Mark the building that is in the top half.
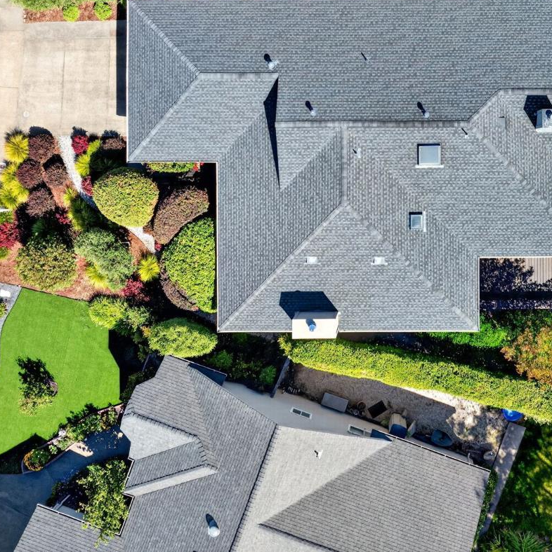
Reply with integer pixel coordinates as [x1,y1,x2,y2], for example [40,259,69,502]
[126,0,552,341]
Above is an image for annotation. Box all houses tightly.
[126,0,552,341]
[13,353,488,552]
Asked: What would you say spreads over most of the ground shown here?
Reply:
buildings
